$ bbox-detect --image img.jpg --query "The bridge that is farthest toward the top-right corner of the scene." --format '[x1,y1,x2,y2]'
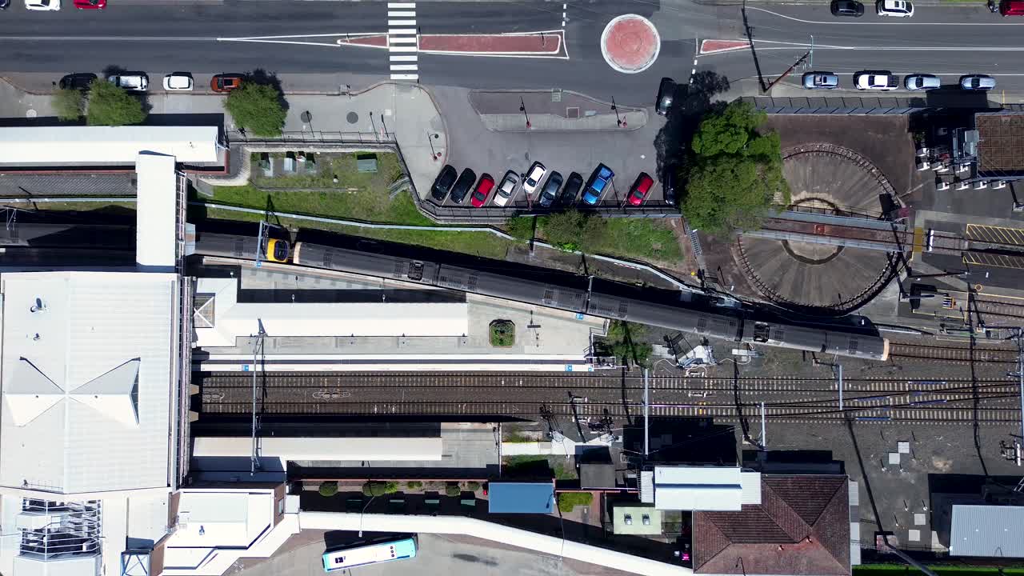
[723,206,912,252]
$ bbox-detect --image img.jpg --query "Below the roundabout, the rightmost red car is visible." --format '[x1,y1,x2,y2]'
[628,173,654,207]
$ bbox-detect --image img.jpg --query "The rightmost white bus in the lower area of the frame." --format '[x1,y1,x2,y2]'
[322,532,421,572]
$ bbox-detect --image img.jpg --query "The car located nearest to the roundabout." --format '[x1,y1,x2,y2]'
[655,77,676,116]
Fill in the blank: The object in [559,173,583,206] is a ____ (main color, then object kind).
black car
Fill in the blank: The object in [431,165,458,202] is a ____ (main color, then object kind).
black car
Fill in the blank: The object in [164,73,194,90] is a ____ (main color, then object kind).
white car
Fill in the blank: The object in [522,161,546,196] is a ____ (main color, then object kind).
white car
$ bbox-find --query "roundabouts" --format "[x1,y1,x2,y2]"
[601,14,660,73]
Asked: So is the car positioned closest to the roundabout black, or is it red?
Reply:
black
